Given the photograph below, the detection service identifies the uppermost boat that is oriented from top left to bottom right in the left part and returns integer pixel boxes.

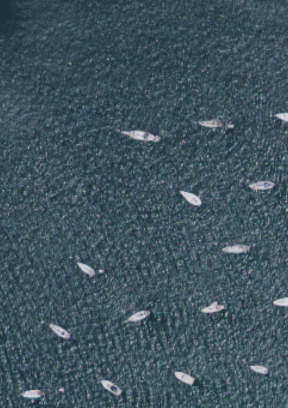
[77,262,96,276]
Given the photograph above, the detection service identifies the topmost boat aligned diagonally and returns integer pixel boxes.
[180,191,202,206]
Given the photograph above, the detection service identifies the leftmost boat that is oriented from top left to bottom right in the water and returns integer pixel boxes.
[49,324,70,339]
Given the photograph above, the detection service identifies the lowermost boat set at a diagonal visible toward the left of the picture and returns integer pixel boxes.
[101,380,122,396]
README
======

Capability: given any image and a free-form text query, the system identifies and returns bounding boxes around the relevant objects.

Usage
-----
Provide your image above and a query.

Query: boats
[124,310,150,322]
[248,182,274,189]
[198,120,220,127]
[222,246,251,253]
[49,324,70,339]
[101,380,122,396]
[273,298,288,306]
[77,262,96,276]
[174,372,194,386]
[250,366,268,375]
[201,304,224,312]
[180,191,202,206]
[274,112,288,121]
[122,131,160,142]
[22,390,44,398]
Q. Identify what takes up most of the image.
water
